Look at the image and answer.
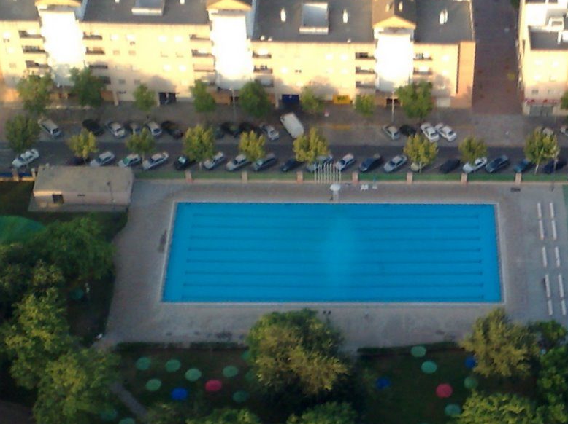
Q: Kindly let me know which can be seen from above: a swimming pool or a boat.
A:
swimming pool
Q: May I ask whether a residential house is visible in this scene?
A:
Yes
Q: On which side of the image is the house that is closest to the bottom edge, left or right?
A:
left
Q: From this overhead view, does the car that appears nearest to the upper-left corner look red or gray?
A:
gray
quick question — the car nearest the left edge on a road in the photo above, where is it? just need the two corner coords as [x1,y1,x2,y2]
[11,152,42,168]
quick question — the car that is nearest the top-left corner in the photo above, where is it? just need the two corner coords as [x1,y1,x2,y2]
[39,119,63,139]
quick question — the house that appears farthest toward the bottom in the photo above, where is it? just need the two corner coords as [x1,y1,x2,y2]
[29,164,135,211]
